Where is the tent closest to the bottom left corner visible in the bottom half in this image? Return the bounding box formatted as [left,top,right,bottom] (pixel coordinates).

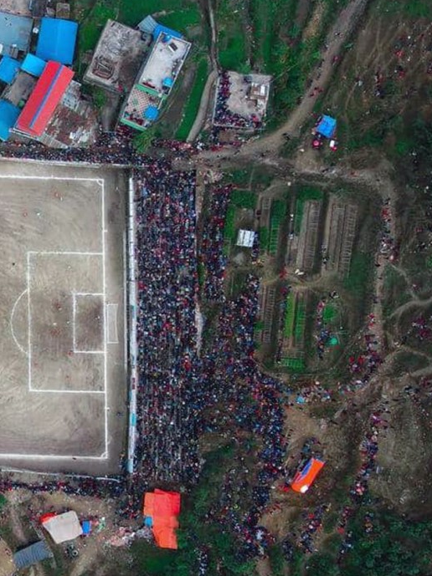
[44,510,82,544]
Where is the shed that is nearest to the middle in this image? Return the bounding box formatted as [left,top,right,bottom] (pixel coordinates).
[233,230,254,246]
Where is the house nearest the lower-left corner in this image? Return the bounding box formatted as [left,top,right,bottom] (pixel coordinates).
[13,538,49,569]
